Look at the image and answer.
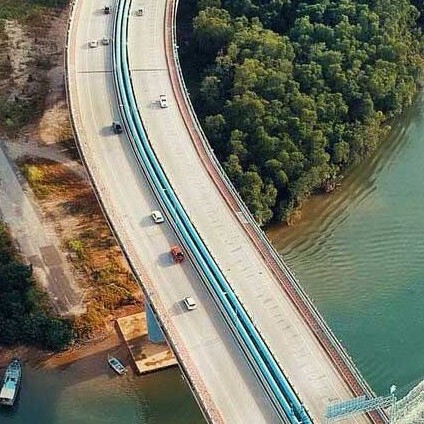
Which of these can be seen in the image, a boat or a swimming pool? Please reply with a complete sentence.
The one in the frame is a boat.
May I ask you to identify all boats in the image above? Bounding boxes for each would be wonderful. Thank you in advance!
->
[1,356,19,406]
[110,351,127,375]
